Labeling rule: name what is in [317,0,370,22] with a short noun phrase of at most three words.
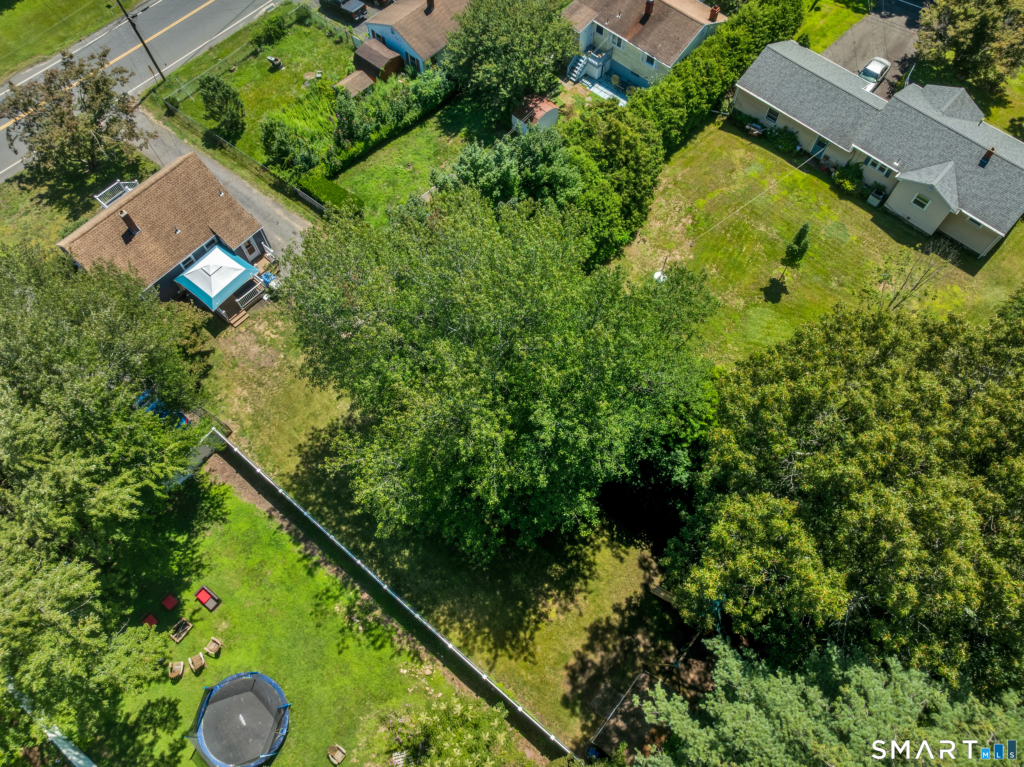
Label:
truck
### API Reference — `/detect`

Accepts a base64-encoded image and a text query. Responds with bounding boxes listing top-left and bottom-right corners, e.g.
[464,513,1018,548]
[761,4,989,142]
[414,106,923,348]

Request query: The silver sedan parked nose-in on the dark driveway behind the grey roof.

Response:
[857,54,895,91]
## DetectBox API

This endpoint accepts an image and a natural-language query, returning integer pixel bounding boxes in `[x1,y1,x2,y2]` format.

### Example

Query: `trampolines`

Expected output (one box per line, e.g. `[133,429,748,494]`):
[186,668,296,767]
